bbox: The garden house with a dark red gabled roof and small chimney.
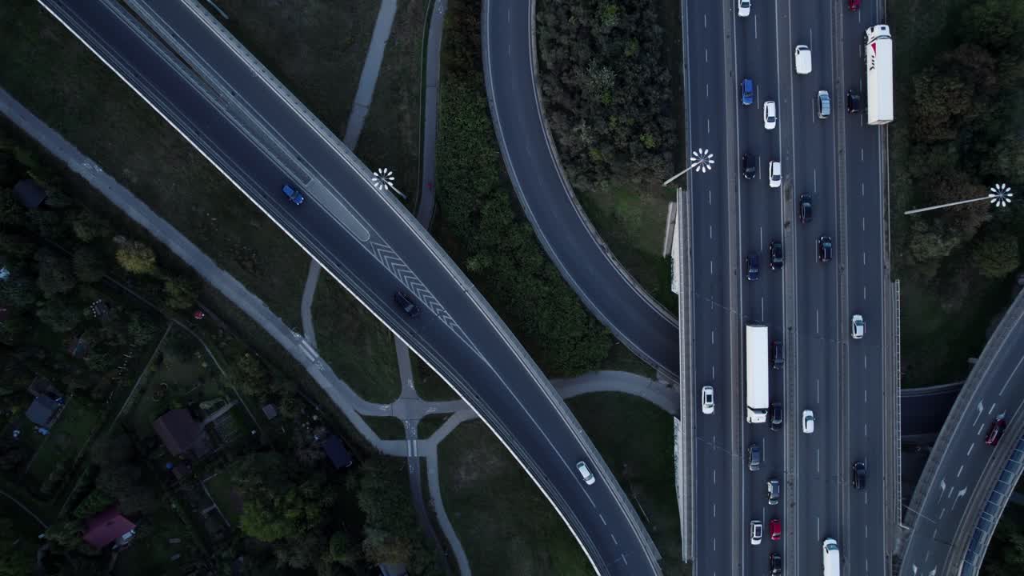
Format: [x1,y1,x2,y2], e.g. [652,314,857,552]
[86,500,143,550]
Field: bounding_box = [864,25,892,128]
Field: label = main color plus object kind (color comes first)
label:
white truck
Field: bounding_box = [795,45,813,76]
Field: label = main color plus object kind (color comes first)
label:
white vehicle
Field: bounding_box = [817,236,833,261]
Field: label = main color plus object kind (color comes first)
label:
black car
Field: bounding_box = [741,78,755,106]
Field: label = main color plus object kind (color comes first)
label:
blue car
